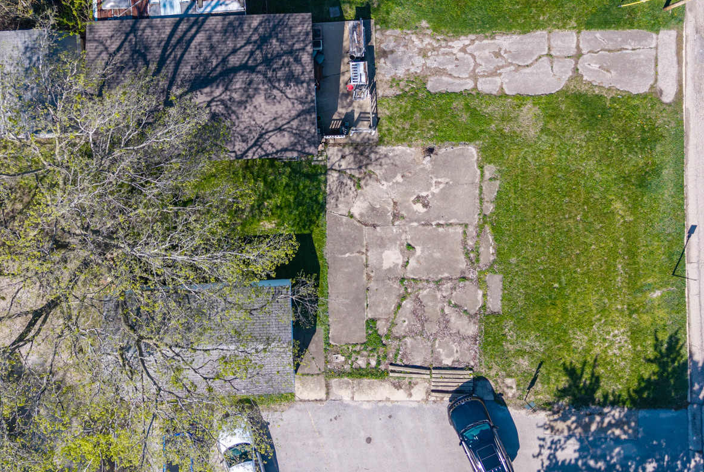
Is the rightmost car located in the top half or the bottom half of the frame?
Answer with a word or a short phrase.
bottom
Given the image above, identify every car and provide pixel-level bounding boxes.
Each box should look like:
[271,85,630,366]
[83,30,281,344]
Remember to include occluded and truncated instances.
[221,418,262,472]
[453,393,513,472]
